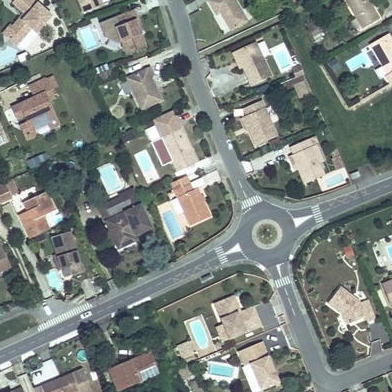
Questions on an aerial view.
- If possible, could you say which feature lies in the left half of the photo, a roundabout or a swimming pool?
swimming pool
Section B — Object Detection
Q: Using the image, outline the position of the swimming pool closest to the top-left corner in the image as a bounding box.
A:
[0,46,18,66]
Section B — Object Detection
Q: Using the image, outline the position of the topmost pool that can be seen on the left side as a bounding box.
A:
[76,24,104,54]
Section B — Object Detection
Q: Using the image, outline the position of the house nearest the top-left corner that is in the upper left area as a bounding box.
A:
[2,0,48,61]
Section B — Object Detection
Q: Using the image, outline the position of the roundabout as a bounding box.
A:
[236,202,298,264]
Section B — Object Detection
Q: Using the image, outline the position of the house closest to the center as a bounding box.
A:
[172,172,212,226]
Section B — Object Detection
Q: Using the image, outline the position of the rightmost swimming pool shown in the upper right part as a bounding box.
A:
[346,50,372,71]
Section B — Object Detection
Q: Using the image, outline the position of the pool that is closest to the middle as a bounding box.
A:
[162,208,184,238]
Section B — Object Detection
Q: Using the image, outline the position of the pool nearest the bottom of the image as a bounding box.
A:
[202,360,240,383]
